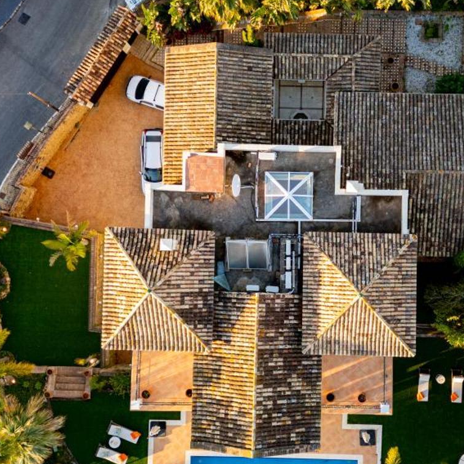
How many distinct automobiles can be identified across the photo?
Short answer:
2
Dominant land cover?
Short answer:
buildings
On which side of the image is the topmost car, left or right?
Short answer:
left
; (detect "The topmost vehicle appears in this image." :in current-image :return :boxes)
[122,72,165,111]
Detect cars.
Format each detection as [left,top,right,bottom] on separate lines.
[122,72,165,111]
[134,126,164,196]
